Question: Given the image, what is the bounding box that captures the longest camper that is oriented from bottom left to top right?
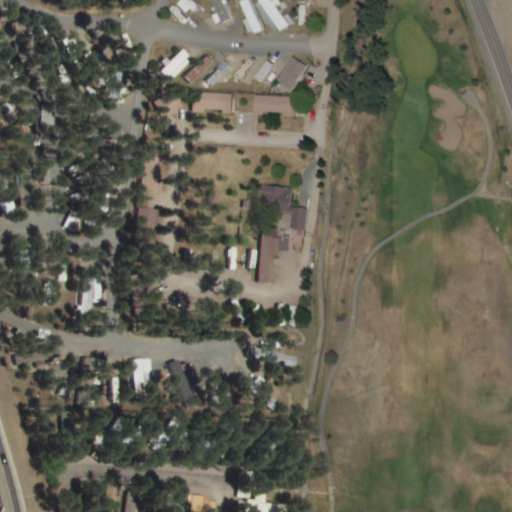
[234,58,253,79]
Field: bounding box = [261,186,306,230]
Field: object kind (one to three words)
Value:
house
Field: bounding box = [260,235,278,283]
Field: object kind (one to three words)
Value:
building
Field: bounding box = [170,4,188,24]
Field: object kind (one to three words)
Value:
camper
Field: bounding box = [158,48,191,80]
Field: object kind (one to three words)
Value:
house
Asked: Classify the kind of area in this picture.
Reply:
golf course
